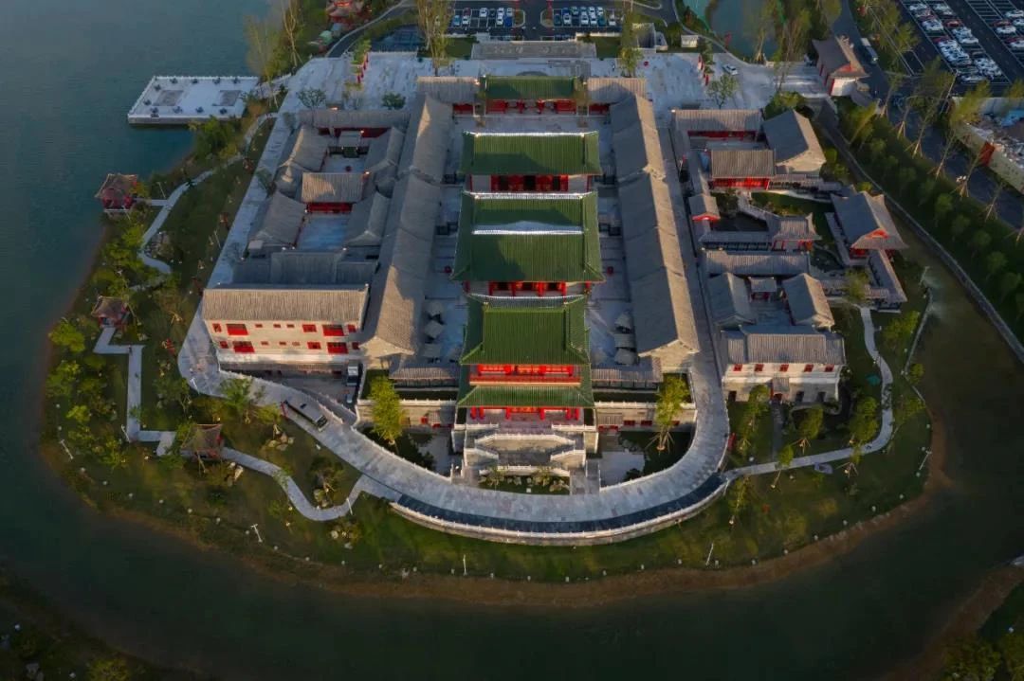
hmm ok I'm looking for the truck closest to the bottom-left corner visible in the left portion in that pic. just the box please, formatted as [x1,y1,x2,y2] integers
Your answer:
[283,399,332,439]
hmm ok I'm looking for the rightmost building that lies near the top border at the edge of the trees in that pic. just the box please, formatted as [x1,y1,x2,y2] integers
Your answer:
[810,27,871,99]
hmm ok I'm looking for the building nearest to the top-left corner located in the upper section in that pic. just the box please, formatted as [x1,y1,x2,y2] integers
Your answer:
[88,170,153,223]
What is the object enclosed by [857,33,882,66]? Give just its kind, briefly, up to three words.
bus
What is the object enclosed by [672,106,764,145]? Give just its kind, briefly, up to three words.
house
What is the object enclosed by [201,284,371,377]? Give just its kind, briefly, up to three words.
building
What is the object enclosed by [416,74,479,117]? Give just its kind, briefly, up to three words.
building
